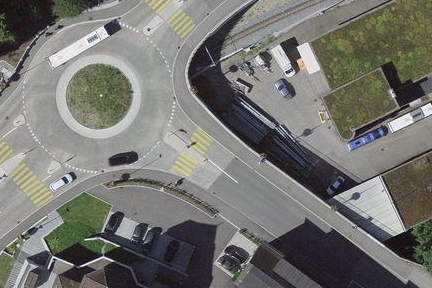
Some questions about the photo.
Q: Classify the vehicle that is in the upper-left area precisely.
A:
bus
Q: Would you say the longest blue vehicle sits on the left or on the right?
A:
right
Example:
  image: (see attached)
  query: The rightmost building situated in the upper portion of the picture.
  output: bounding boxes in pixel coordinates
[394,74,432,107]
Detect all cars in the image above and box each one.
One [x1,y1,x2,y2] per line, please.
[325,174,346,196]
[104,210,124,236]
[142,225,163,252]
[48,172,72,192]
[164,238,182,264]
[216,254,242,272]
[130,221,148,245]
[110,152,136,164]
[274,78,294,102]
[224,245,250,263]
